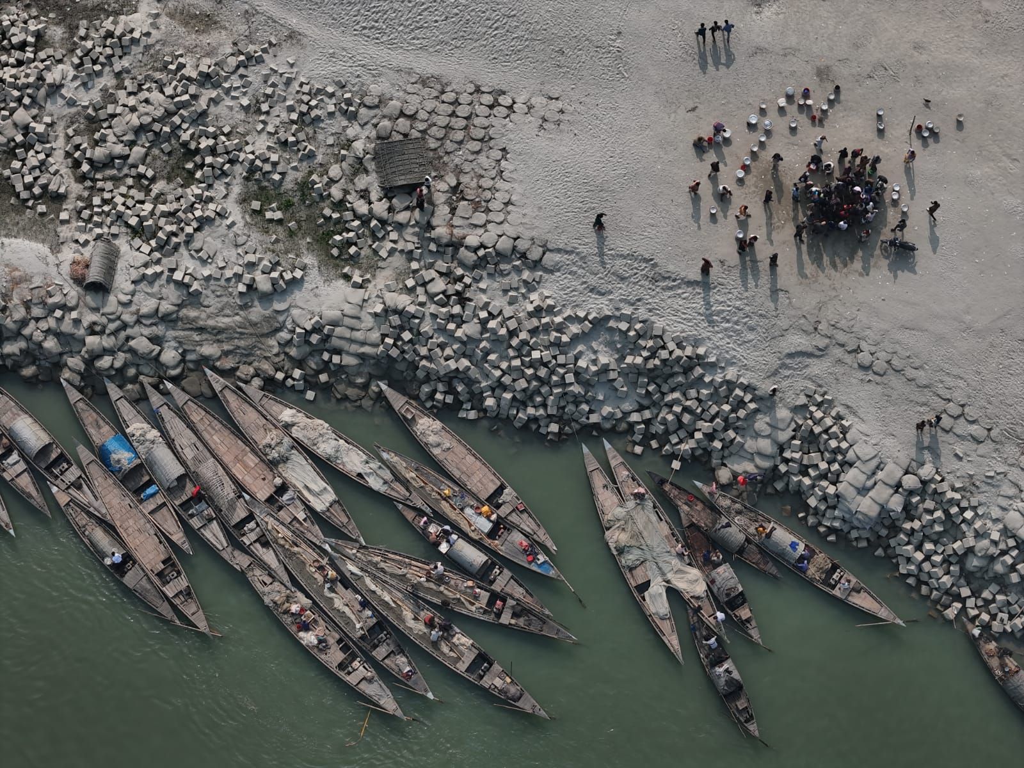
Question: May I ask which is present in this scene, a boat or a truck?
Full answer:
There is a boat in the scene.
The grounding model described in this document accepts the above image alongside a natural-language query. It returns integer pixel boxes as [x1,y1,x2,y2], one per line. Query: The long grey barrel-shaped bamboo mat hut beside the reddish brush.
[79,238,123,288]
